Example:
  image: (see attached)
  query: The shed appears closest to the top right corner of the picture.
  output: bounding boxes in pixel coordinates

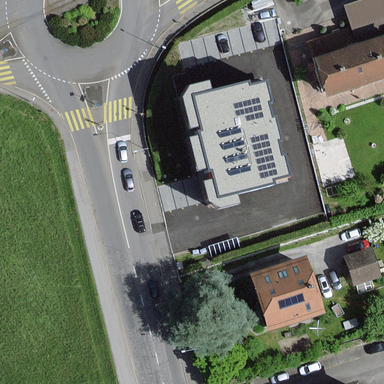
[344,0,384,30]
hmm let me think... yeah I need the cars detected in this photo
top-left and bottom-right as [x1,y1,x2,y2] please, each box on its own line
[270,372,290,384]
[341,228,362,240]
[122,168,134,191]
[116,140,128,163]
[258,9,278,20]
[317,274,332,298]
[300,362,322,375]
[364,342,384,353]
[216,32,230,54]
[132,210,144,232]
[252,22,265,44]
[329,270,342,290]
[348,240,370,252]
